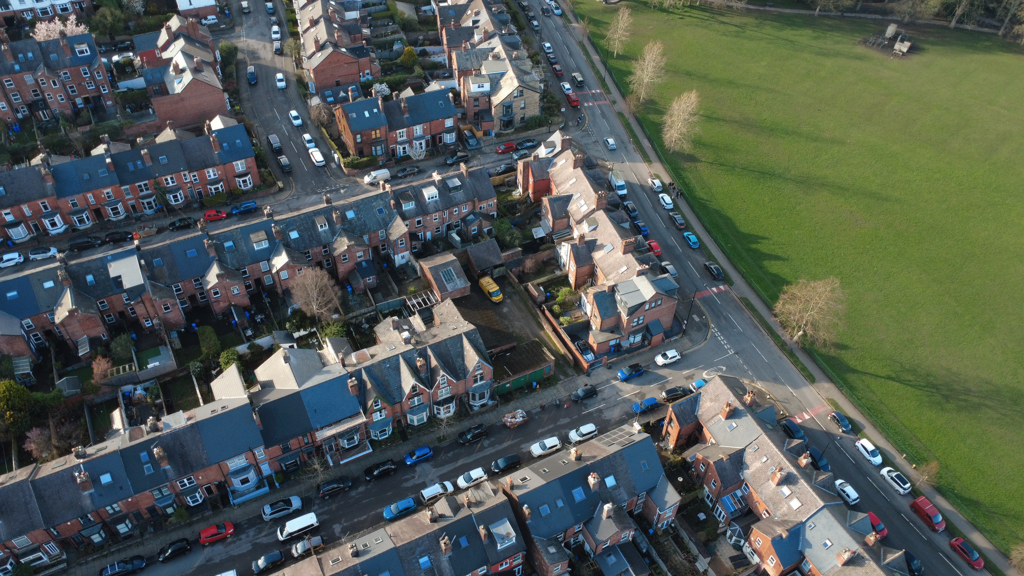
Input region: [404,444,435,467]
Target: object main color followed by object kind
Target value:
blue car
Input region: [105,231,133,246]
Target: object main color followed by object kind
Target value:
black car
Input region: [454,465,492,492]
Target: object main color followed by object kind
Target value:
white car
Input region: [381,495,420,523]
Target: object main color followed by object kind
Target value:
blue car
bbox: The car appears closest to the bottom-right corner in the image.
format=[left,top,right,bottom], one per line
[949,536,984,571]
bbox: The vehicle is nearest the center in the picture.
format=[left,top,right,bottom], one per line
[479,275,502,305]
